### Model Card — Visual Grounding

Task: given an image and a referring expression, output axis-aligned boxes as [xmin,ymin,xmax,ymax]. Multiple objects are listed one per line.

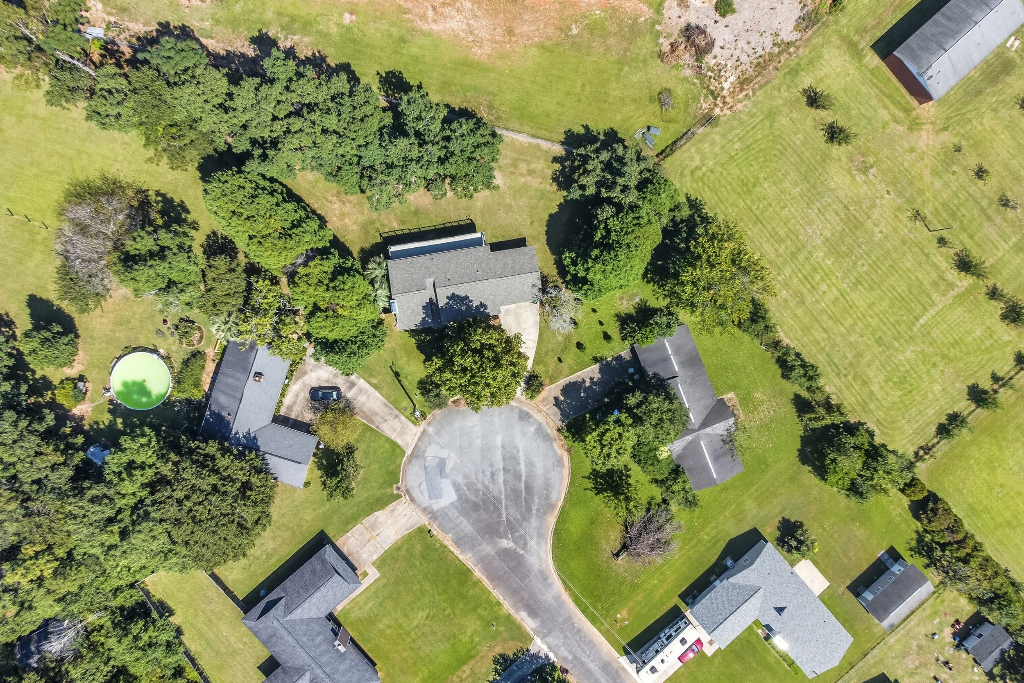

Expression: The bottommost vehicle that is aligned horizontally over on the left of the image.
[309,387,341,402]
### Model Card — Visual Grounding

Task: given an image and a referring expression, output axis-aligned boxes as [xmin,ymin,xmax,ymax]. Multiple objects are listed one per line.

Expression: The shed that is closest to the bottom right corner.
[961,619,1013,672]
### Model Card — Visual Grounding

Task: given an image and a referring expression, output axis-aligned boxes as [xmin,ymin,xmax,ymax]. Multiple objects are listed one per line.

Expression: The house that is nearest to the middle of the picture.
[386,231,540,331]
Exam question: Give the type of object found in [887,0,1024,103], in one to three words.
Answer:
barn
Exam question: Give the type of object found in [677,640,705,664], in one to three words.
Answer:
car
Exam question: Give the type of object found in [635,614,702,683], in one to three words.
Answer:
camper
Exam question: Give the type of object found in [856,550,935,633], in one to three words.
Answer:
shed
